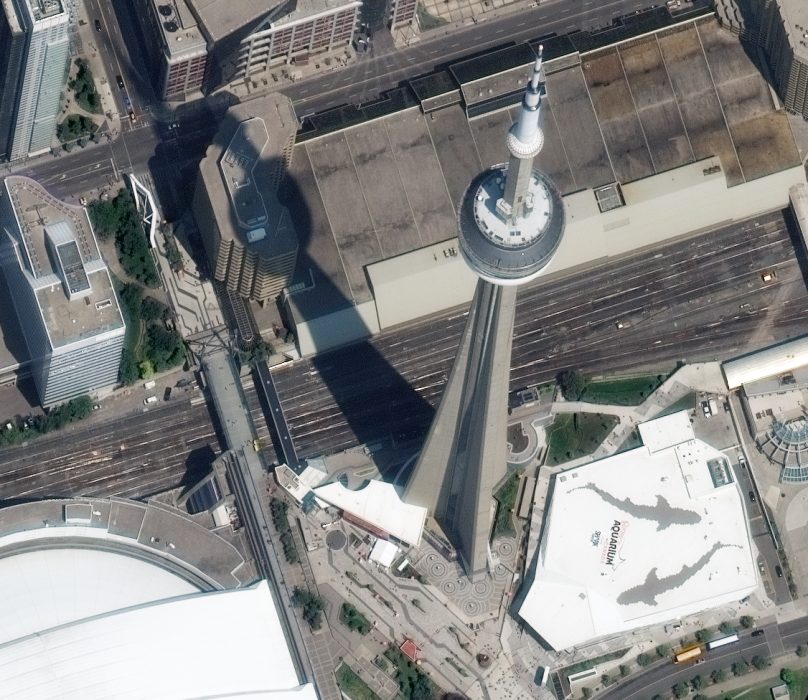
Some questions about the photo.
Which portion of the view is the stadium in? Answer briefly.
bottom left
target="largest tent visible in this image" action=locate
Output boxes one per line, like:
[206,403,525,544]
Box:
[368,538,398,571]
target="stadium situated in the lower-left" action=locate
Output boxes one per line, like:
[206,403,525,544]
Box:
[0,494,316,700]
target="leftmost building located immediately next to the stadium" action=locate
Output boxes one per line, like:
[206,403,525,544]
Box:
[0,175,125,405]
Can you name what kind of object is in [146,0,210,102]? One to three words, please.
building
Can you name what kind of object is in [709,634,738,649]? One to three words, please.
vehicle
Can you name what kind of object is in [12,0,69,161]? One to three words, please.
building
